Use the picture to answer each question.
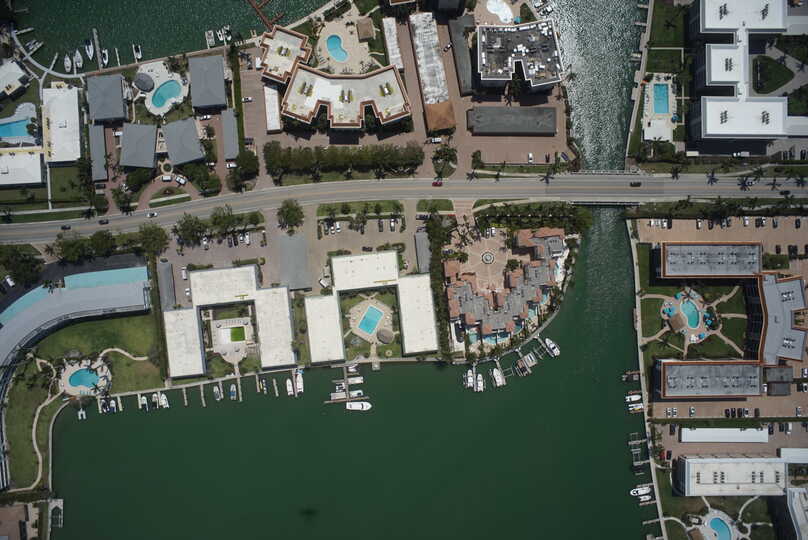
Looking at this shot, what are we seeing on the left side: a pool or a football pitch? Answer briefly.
pool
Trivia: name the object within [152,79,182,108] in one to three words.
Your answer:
swimming pool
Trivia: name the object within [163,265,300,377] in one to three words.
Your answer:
building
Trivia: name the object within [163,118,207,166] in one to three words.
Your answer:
building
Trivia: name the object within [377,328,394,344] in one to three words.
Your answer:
gazebo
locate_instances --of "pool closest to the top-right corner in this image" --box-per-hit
[653,82,669,114]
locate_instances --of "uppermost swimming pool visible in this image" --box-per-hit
[486,0,513,23]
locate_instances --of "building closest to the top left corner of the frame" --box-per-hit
[0,58,34,99]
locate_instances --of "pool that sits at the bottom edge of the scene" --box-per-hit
[709,516,733,540]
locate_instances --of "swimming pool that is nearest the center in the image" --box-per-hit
[357,304,384,336]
